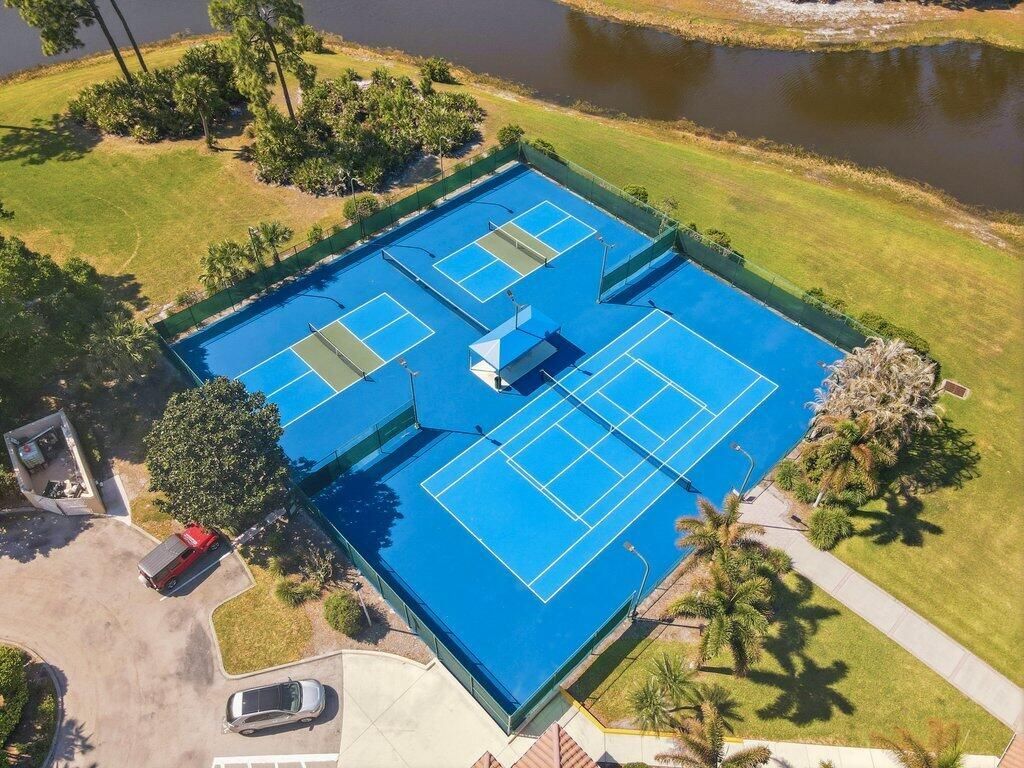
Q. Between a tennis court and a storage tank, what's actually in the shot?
tennis court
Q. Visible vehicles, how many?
two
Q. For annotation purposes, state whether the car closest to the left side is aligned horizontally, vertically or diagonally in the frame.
diagonally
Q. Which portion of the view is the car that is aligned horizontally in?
bottom left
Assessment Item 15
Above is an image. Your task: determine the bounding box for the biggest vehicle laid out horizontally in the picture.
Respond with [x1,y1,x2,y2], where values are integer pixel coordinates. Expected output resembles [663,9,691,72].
[226,679,326,736]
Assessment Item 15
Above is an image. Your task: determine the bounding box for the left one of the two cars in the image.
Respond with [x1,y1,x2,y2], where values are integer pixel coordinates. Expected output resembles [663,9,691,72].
[139,520,226,591]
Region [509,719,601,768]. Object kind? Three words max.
building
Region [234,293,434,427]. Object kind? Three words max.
sports court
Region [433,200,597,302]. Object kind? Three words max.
sports court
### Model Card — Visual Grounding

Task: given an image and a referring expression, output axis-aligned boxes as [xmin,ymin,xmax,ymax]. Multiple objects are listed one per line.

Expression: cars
[139,520,226,591]
[226,679,326,736]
